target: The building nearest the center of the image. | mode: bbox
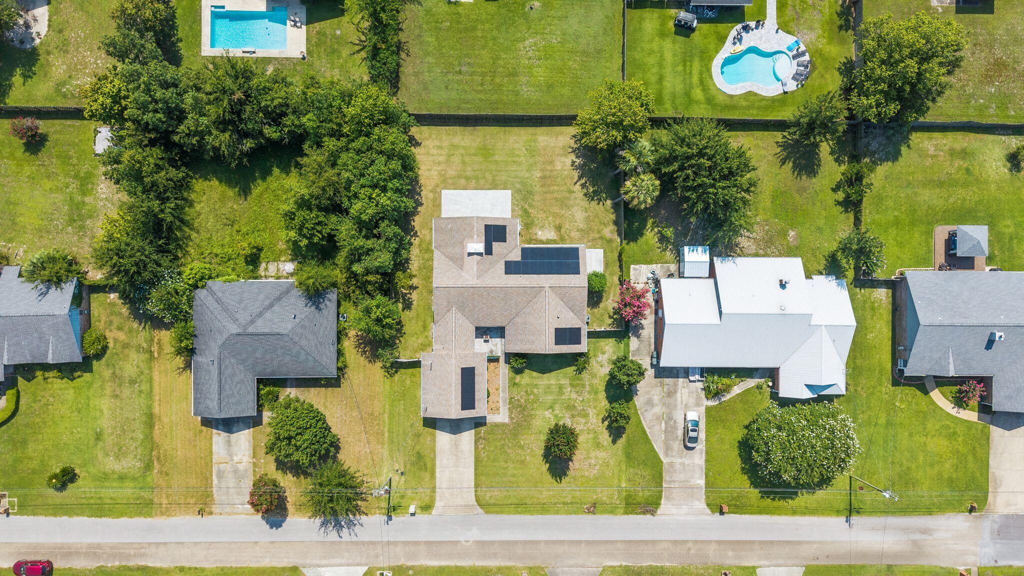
[421,216,588,419]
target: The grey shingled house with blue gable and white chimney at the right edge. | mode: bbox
[896,270,1024,413]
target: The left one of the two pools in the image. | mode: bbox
[202,0,306,57]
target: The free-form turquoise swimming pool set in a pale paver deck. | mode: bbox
[712,0,810,96]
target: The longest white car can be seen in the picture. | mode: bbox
[685,411,703,450]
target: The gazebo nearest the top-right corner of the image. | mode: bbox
[944,224,989,257]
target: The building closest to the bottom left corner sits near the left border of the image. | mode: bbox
[0,265,92,382]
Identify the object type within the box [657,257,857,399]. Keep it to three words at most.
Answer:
house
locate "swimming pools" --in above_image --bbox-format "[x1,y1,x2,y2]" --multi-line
[202,0,306,57]
[712,0,810,96]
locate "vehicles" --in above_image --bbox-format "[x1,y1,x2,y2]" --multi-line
[685,411,703,450]
[676,8,698,29]
[10,561,50,576]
